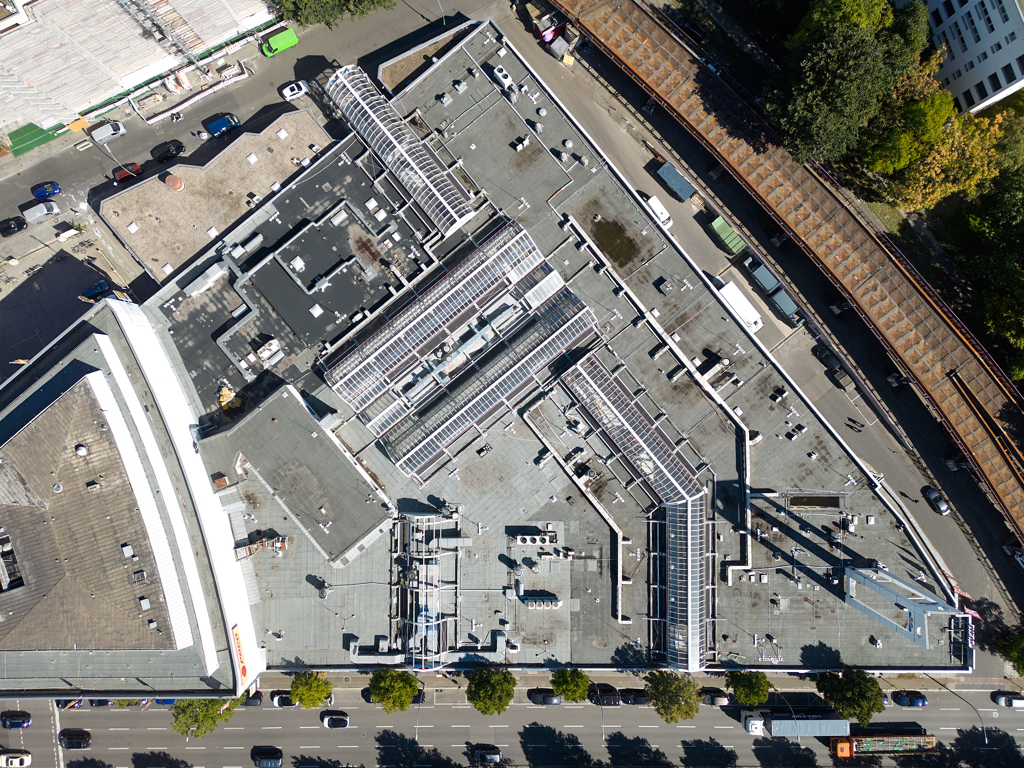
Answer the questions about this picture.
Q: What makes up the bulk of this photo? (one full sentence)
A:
The bulk of the photo consists of buildings.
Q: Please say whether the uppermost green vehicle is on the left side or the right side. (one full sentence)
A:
The uppermost green vehicle appears in the left half of the scene.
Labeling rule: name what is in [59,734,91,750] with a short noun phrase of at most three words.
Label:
car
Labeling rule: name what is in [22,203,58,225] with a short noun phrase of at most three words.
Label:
vehicle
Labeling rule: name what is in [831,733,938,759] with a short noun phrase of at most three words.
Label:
truck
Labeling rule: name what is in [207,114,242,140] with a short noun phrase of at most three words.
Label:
vehicle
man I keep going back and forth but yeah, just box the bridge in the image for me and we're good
[539,0,1024,549]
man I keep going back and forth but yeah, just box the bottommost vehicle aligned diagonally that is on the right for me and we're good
[925,485,951,515]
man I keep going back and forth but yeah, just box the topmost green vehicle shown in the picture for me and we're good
[263,28,300,54]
